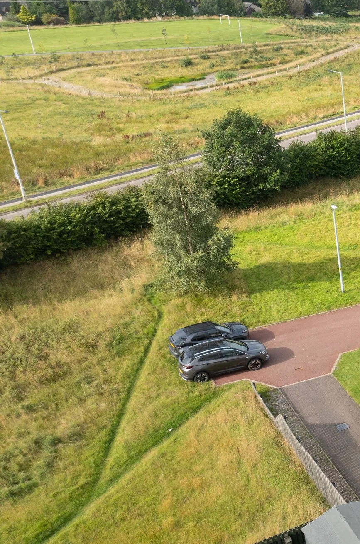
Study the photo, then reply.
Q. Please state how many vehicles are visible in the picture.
2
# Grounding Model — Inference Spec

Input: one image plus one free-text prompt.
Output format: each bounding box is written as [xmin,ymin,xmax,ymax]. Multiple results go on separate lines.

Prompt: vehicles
[177,337,270,385]
[162,320,251,361]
